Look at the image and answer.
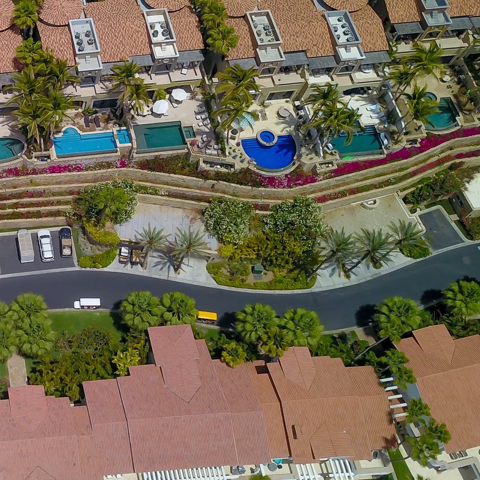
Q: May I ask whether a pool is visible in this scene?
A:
Yes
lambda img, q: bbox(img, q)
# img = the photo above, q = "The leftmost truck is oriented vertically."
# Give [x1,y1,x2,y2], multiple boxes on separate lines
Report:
[14,227,37,268]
